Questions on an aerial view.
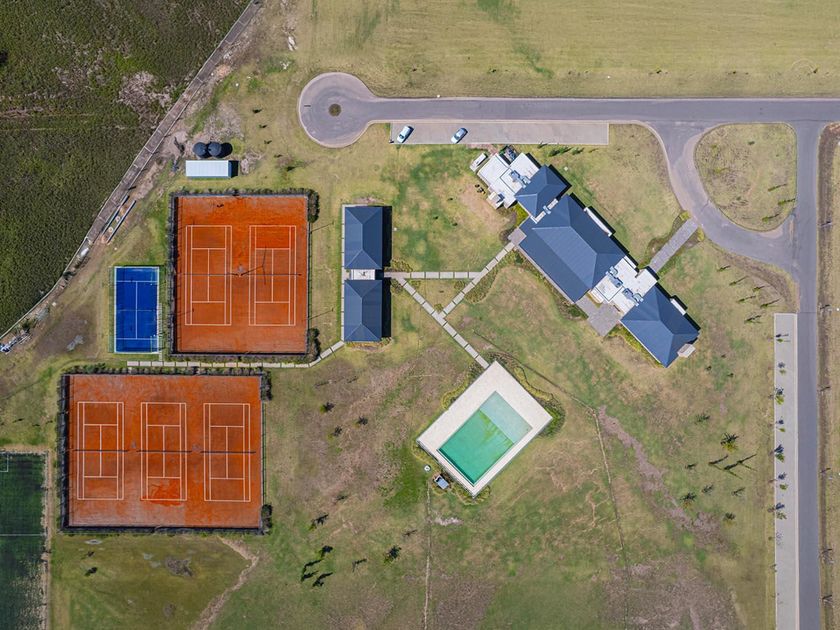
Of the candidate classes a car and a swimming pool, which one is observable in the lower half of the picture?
swimming pool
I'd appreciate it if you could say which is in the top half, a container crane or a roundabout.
roundabout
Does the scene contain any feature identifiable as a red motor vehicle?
No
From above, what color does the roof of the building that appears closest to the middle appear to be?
blue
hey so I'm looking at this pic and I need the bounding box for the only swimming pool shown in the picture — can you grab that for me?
[417,362,552,494]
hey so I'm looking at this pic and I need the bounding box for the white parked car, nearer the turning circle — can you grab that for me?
[395,125,412,144]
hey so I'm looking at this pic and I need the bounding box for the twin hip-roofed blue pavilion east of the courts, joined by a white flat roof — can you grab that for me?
[345,207,382,341]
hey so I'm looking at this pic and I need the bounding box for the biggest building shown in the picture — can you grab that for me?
[477,153,700,367]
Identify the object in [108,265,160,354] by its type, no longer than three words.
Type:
sports court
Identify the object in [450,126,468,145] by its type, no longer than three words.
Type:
car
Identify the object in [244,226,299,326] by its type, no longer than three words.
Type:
tennis court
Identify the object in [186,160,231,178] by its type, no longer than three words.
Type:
shed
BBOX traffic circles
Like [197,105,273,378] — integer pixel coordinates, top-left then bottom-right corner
[299,71,377,148]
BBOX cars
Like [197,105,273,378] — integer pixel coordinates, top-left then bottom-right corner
[395,125,412,144]
[450,126,468,145]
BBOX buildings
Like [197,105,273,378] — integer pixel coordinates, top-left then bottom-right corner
[345,207,382,341]
[186,160,231,178]
[477,153,700,367]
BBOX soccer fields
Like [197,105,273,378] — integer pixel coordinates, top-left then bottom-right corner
[0,452,47,630]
